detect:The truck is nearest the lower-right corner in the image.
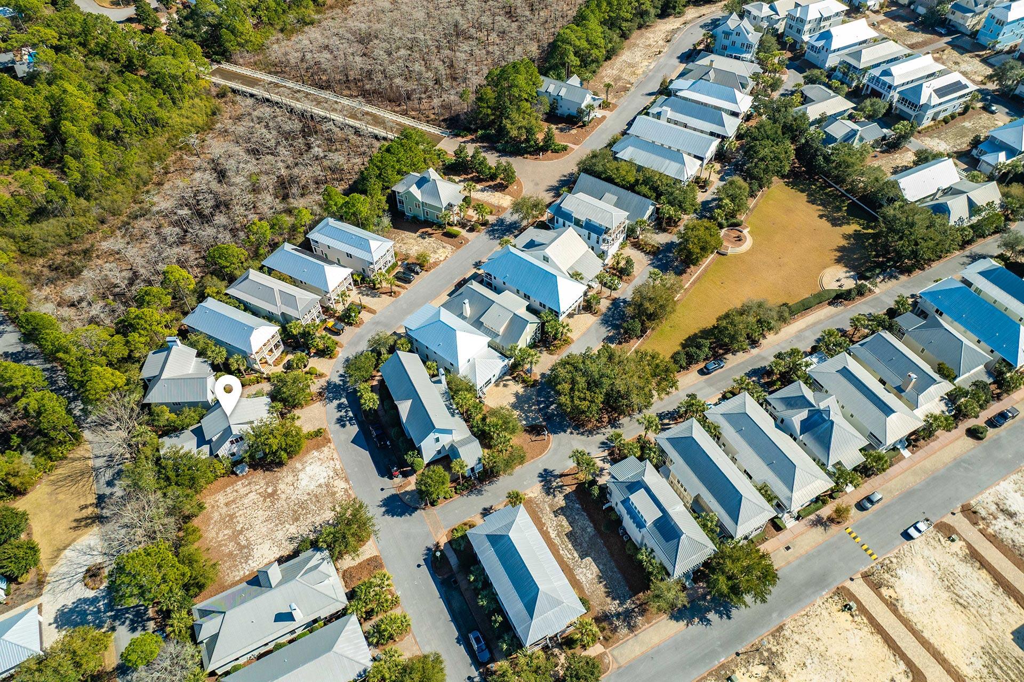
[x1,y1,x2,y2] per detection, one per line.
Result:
[903,519,937,542]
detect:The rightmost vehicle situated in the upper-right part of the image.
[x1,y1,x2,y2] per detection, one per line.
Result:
[980,101,998,113]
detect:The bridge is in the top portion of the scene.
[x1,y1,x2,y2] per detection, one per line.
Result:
[197,58,455,154]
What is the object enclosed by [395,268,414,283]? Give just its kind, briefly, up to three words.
car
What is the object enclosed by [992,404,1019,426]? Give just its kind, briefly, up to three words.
truck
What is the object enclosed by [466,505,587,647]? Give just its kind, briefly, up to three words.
house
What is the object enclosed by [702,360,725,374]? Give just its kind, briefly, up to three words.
car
